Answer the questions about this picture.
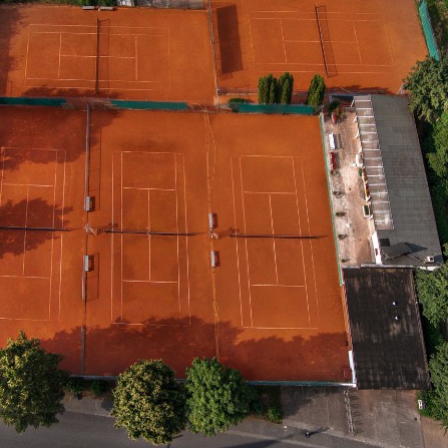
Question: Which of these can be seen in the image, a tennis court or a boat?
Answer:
tennis court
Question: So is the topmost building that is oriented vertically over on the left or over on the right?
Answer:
right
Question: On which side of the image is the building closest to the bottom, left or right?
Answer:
right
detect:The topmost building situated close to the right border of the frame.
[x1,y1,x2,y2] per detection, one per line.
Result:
[352,92,443,269]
